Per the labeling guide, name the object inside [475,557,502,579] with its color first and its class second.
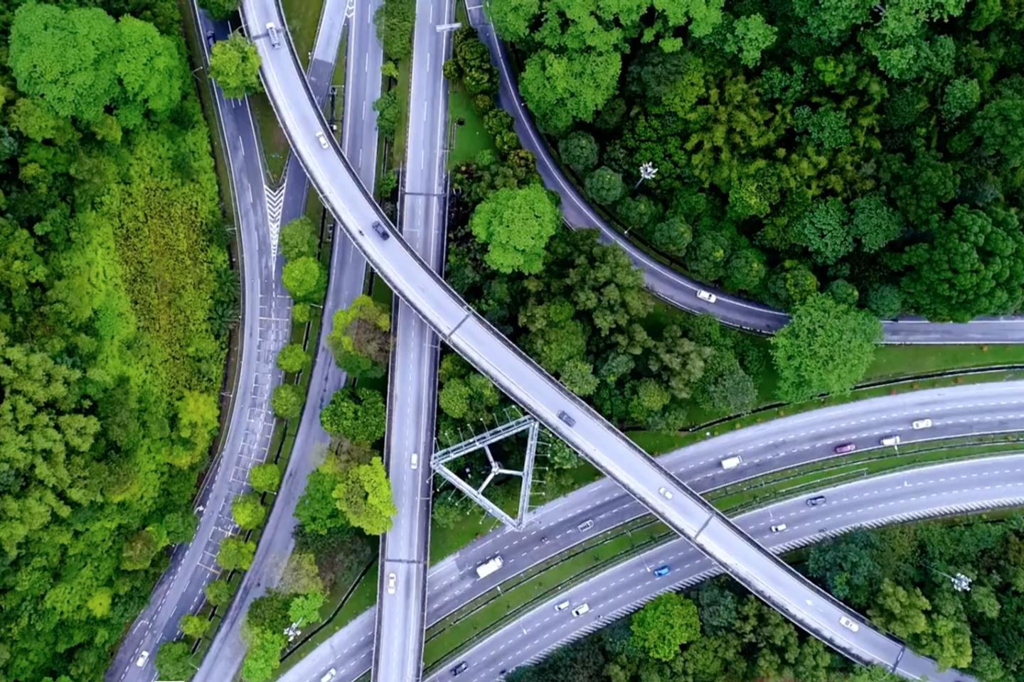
white truck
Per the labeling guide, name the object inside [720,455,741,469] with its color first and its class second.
white vehicle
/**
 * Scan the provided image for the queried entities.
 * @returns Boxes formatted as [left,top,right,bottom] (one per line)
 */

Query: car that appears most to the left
[137,650,150,667]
